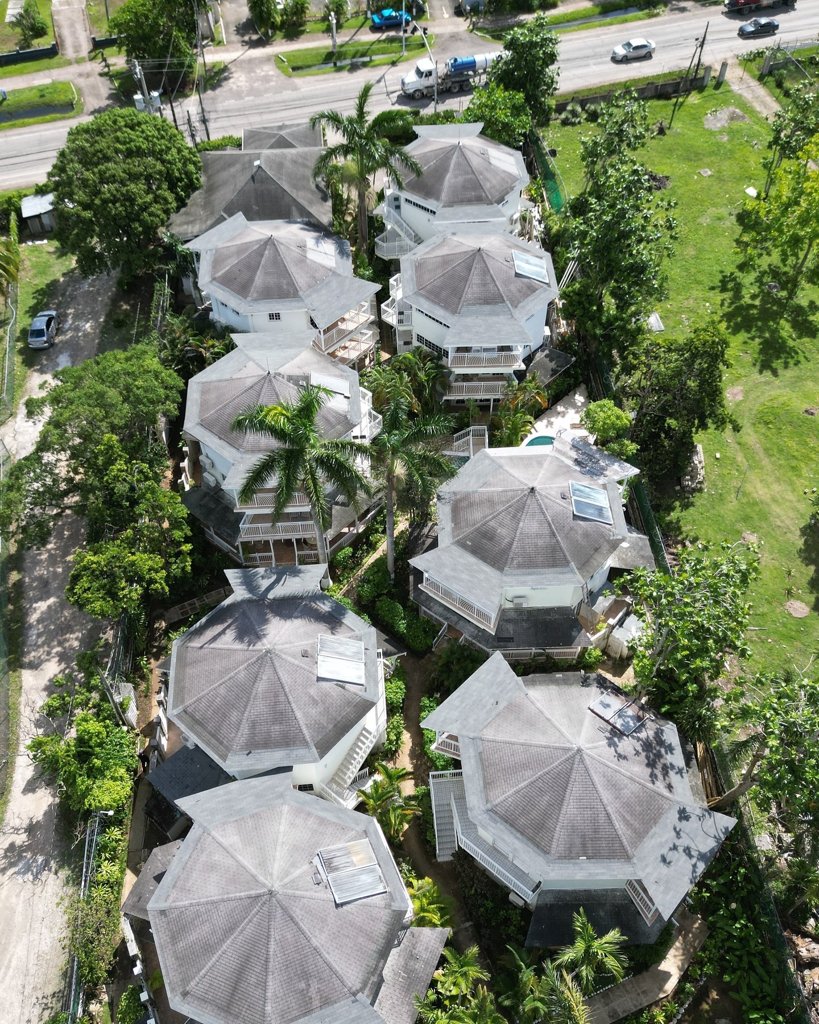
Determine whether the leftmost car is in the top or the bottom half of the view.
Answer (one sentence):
The leftmost car sits in the top half of the picture.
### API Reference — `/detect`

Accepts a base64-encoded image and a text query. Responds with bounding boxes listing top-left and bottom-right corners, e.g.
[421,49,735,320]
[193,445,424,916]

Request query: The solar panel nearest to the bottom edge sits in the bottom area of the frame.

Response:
[316,838,389,908]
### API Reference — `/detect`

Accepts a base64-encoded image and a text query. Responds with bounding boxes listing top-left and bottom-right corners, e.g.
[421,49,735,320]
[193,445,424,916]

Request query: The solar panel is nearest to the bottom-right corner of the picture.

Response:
[587,689,650,737]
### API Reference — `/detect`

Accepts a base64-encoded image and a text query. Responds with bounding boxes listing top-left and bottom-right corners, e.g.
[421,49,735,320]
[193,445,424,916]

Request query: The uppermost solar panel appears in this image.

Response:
[511,251,549,285]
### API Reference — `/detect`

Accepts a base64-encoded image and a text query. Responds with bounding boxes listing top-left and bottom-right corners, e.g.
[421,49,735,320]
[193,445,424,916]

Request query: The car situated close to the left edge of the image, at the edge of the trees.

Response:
[25,310,59,351]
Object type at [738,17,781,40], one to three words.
car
